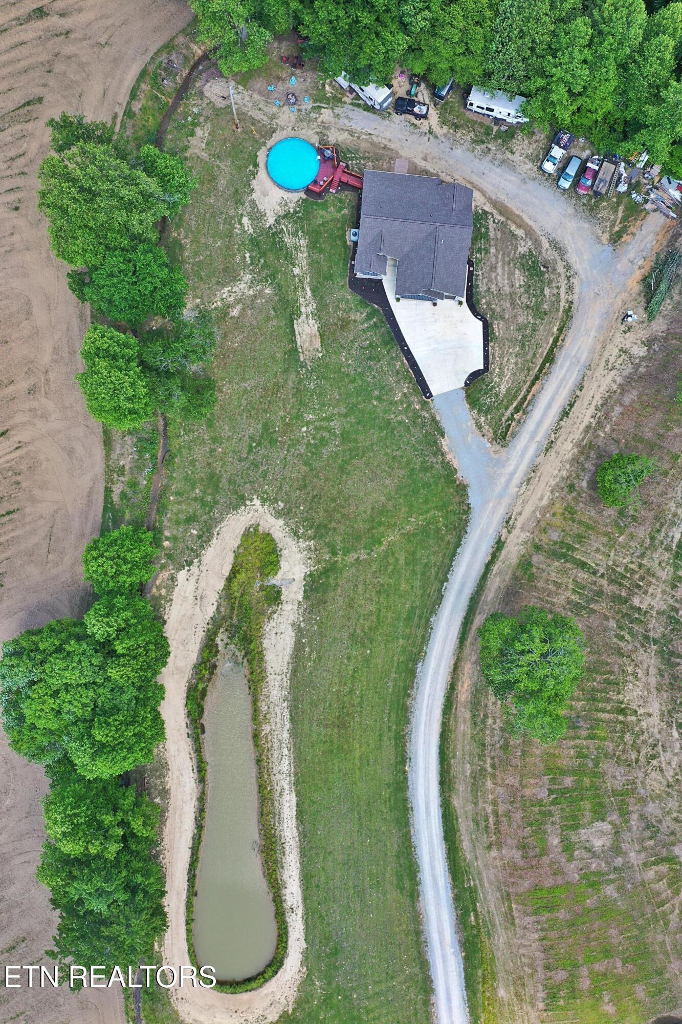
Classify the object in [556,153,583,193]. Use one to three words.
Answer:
car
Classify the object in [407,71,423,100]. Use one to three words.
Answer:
work vehicle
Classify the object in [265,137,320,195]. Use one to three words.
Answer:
swimming pool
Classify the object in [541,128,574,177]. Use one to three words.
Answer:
truck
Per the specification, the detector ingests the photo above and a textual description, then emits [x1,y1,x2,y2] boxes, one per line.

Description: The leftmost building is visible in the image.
[353,169,474,305]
